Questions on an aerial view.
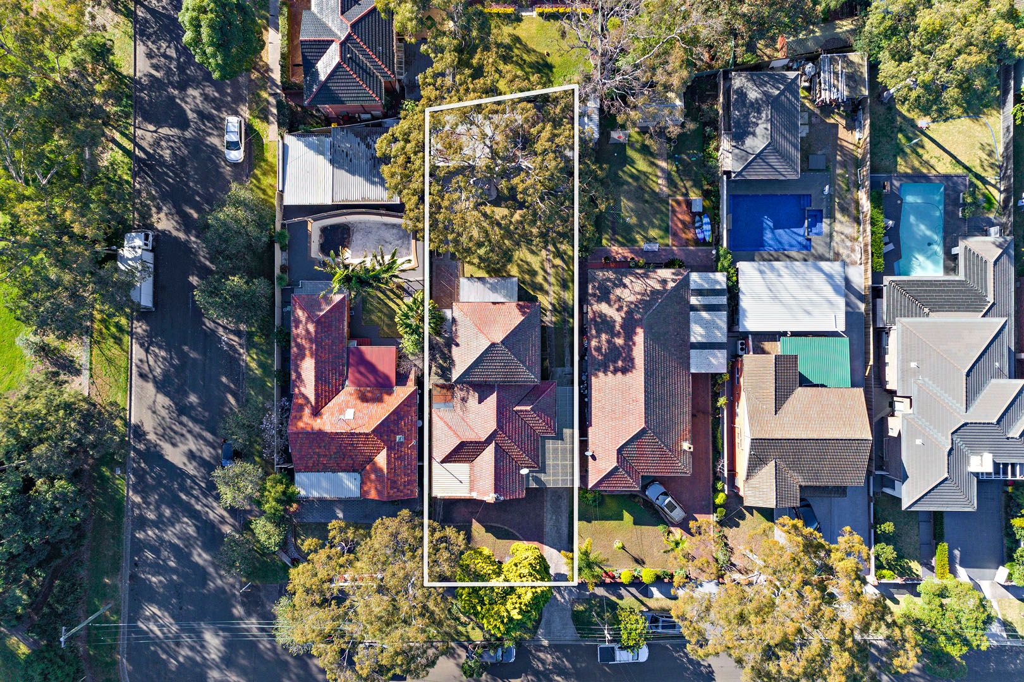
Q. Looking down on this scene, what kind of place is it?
residential area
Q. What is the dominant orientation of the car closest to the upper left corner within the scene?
vertically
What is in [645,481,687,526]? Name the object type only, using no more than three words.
car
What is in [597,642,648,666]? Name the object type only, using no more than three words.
truck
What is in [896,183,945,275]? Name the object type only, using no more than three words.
swimming pool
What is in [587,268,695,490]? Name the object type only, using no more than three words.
house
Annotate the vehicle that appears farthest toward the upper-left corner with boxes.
[222,116,246,163]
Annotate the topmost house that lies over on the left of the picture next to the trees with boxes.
[299,0,397,108]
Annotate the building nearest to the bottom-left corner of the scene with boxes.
[288,293,418,502]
